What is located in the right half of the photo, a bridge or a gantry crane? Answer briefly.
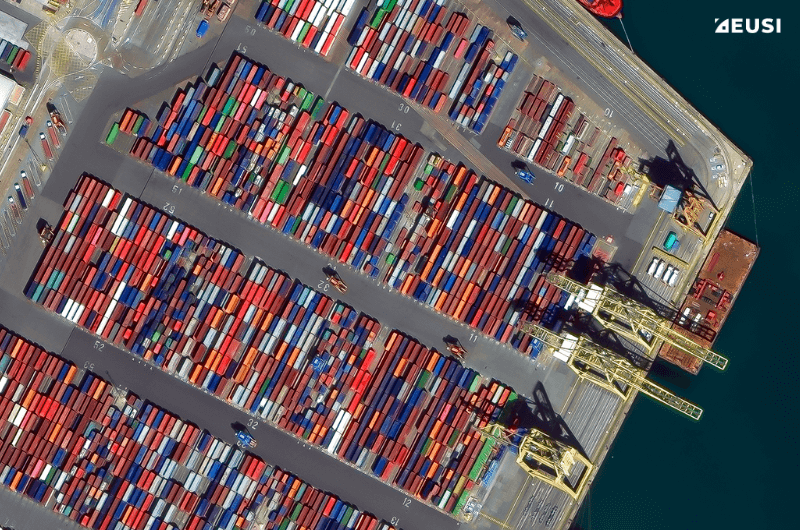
gantry crane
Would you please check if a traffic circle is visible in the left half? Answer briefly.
Yes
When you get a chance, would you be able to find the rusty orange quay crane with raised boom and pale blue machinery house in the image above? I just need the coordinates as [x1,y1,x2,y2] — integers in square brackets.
[646,184,720,240]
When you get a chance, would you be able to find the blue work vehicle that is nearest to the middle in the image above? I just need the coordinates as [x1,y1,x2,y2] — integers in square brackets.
[514,169,537,185]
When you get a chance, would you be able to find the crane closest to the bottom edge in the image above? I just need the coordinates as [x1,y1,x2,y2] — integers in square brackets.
[470,421,594,502]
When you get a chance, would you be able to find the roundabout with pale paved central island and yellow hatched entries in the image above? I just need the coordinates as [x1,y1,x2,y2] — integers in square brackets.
[27,16,110,102]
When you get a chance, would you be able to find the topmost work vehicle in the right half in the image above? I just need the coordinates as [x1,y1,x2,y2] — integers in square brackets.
[509,23,530,41]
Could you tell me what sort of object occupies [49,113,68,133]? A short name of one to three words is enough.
work vehicle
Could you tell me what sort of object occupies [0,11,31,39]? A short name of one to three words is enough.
building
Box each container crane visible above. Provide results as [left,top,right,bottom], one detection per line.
[546,271,731,371]
[521,321,705,422]
[646,184,720,240]
[470,421,594,502]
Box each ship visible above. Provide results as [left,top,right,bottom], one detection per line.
[578,0,622,18]
[660,229,762,376]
